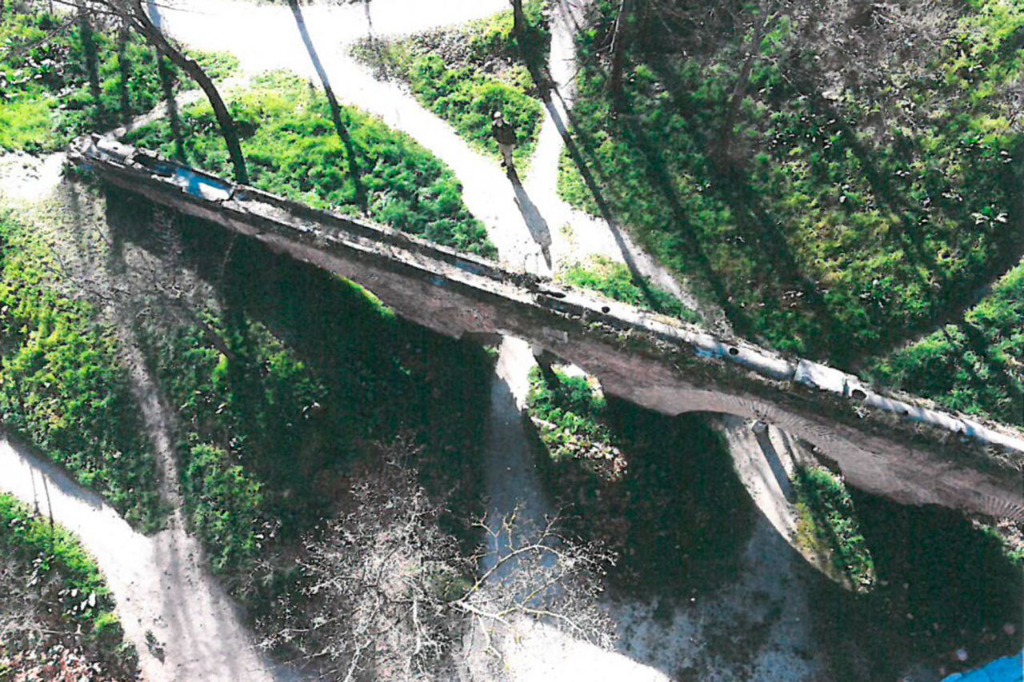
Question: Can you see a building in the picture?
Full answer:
No, there's no building here.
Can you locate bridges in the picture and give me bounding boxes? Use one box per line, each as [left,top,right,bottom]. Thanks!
[64,127,1024,521]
